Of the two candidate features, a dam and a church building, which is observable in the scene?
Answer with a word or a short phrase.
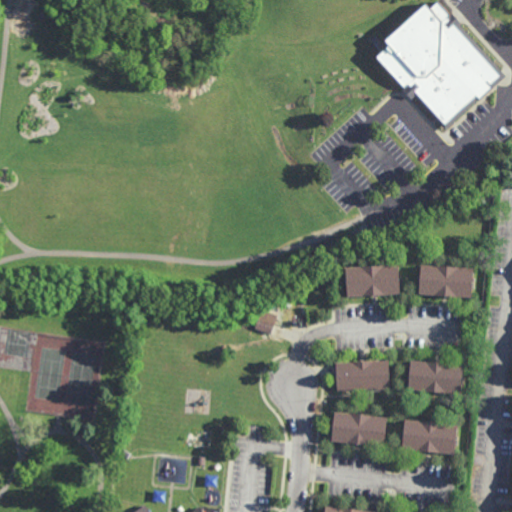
church building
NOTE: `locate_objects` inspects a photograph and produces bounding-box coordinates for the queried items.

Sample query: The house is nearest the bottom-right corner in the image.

[402,418,460,454]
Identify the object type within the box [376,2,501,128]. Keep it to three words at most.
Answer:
church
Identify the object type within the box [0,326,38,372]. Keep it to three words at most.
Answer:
sports court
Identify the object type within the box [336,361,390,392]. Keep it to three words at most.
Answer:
house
